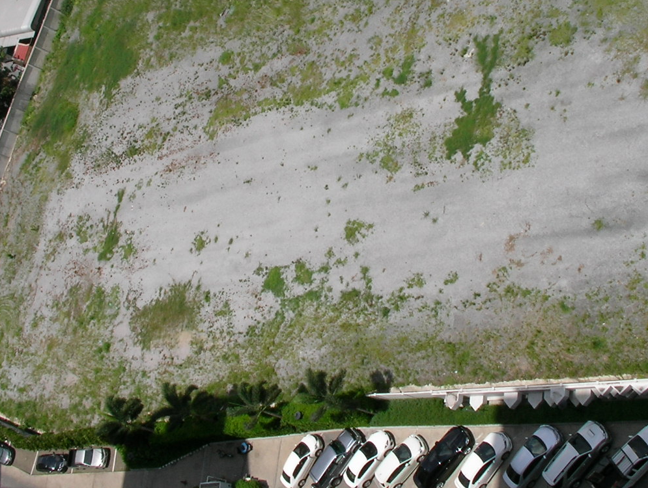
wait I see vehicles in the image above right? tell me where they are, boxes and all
[461,428,521,488]
[507,417,570,488]
[375,429,432,488]
[277,428,325,488]
[415,421,480,488]
[310,418,367,488]
[68,444,114,471]
[344,426,397,488]
[591,419,648,488]
[542,414,616,488]
[36,451,71,477]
